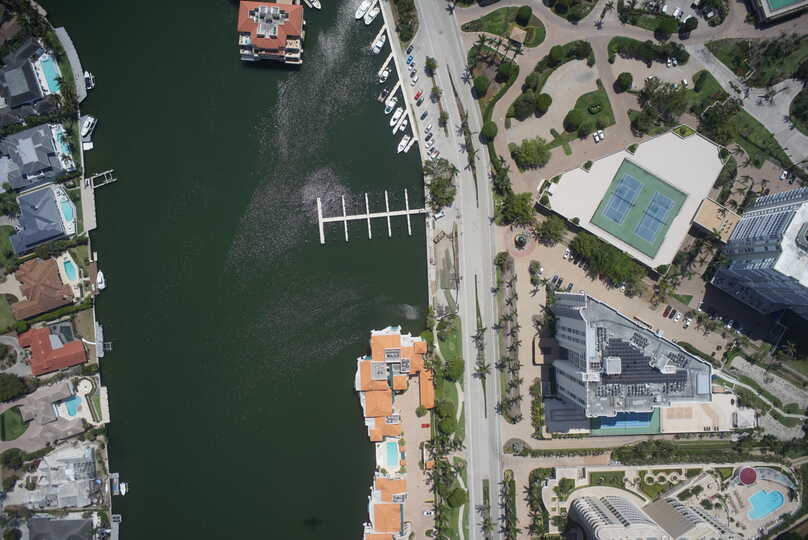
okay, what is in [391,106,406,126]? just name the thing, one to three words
boat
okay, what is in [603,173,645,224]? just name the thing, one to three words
tennis court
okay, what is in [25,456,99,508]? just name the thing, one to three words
house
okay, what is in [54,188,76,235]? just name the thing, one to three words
swimming pool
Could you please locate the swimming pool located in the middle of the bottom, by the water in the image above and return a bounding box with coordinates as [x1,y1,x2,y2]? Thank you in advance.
[376,438,405,473]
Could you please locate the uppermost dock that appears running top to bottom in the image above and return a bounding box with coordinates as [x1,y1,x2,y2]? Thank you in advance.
[80,178,98,231]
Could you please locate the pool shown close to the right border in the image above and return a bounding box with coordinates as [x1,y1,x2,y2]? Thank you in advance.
[748,489,786,521]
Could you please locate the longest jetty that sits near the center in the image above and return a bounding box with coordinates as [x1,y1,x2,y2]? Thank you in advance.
[316,189,428,243]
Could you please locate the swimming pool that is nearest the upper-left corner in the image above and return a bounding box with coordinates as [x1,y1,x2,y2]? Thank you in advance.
[36,53,63,95]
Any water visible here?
Yes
